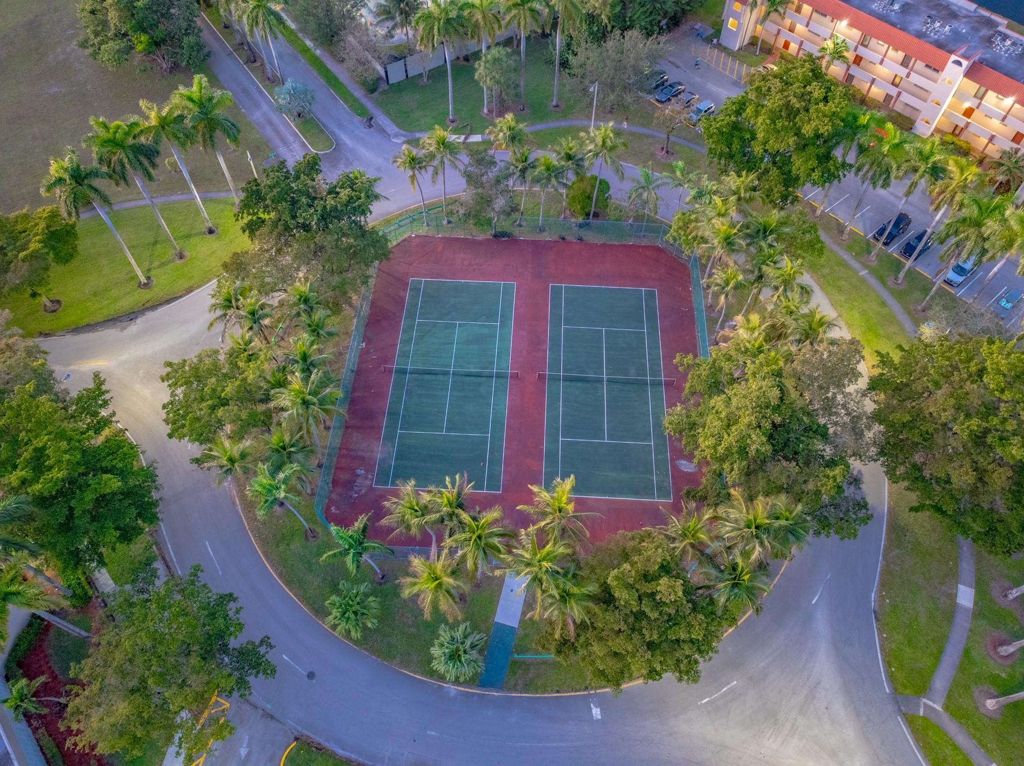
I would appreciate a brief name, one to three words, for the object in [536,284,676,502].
tennis court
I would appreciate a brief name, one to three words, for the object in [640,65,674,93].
car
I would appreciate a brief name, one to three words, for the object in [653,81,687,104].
car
